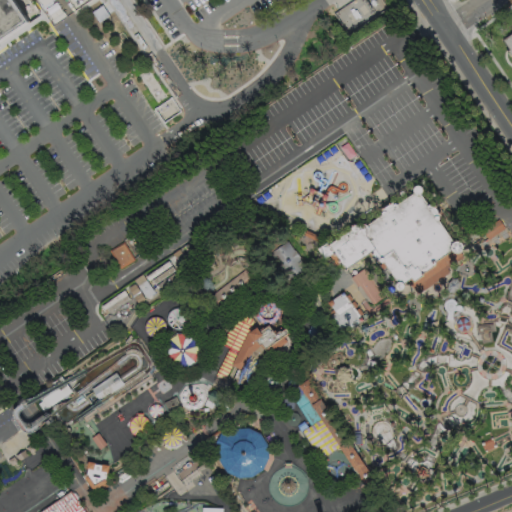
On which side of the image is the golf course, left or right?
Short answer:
right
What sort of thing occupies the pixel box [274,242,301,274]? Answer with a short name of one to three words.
house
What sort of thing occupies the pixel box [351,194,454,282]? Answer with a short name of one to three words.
building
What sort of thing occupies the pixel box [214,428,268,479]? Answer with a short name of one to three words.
building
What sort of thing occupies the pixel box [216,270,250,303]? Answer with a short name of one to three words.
house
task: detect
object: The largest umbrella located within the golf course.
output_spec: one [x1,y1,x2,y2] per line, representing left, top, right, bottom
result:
[456,316,472,332]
